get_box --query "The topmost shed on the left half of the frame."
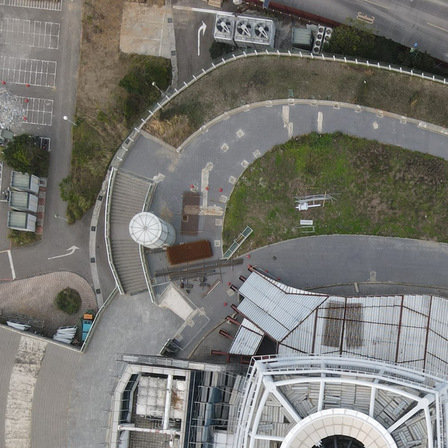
[10,170,50,193]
